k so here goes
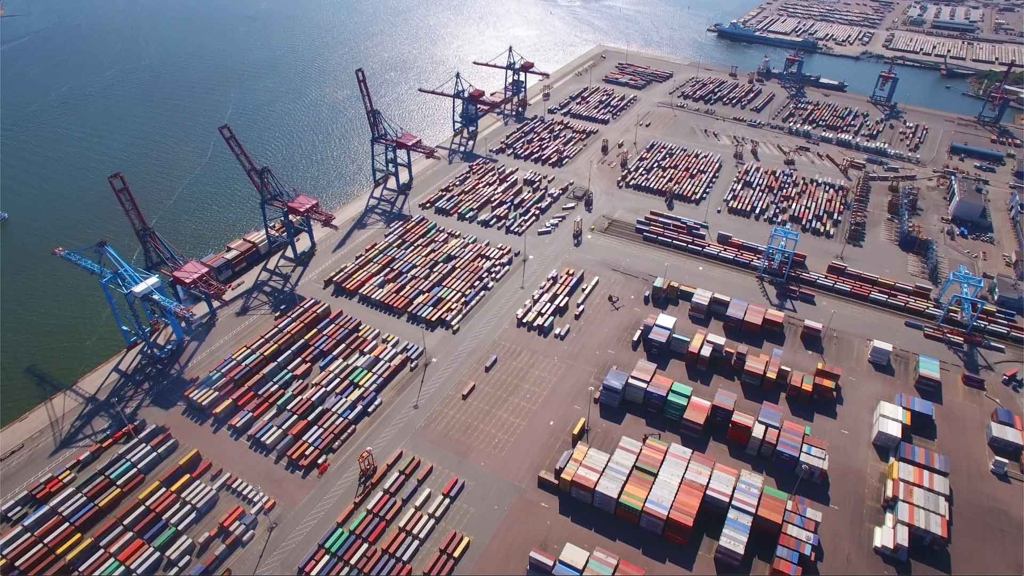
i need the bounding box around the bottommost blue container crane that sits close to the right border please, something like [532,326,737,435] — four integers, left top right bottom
[937,257,987,333]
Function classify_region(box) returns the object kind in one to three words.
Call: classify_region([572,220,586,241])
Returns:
work vehicle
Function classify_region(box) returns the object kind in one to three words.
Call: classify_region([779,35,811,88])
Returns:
crane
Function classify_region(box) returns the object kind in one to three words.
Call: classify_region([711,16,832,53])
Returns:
ship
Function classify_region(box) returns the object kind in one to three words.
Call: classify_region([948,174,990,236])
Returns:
building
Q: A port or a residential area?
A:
port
